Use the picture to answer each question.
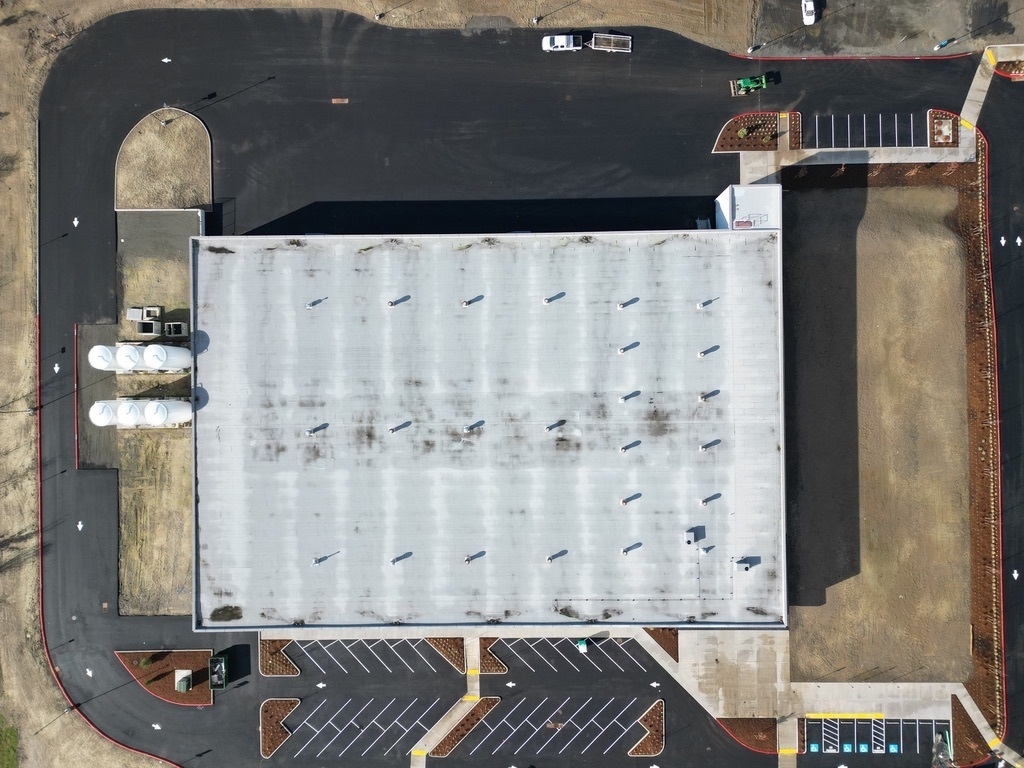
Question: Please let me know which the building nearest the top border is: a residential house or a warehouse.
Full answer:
What you see as the building nearest the top border is a warehouse.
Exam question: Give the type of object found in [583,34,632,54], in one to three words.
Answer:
trailer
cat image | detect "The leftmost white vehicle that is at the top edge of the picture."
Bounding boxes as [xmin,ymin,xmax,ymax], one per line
[541,34,582,52]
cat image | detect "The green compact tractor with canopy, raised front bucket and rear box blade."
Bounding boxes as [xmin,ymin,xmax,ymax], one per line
[729,76,767,98]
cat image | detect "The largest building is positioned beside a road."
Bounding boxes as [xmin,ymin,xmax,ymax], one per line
[191,184,787,632]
